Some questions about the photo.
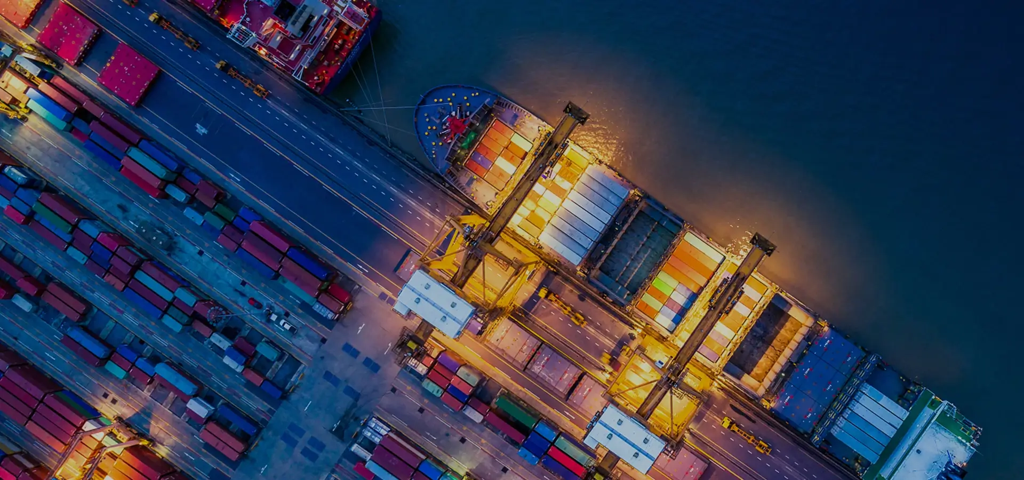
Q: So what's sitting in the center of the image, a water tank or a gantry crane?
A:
gantry crane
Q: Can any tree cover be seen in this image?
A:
No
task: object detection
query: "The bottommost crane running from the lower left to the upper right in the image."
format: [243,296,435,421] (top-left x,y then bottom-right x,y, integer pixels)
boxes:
[51,417,152,480]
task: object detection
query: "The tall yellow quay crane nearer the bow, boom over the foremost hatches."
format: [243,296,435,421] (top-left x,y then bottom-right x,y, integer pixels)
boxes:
[386,98,590,361]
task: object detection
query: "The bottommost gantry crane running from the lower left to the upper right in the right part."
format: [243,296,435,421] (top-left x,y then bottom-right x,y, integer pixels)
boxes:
[578,232,783,480]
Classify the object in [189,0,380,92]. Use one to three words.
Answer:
ship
